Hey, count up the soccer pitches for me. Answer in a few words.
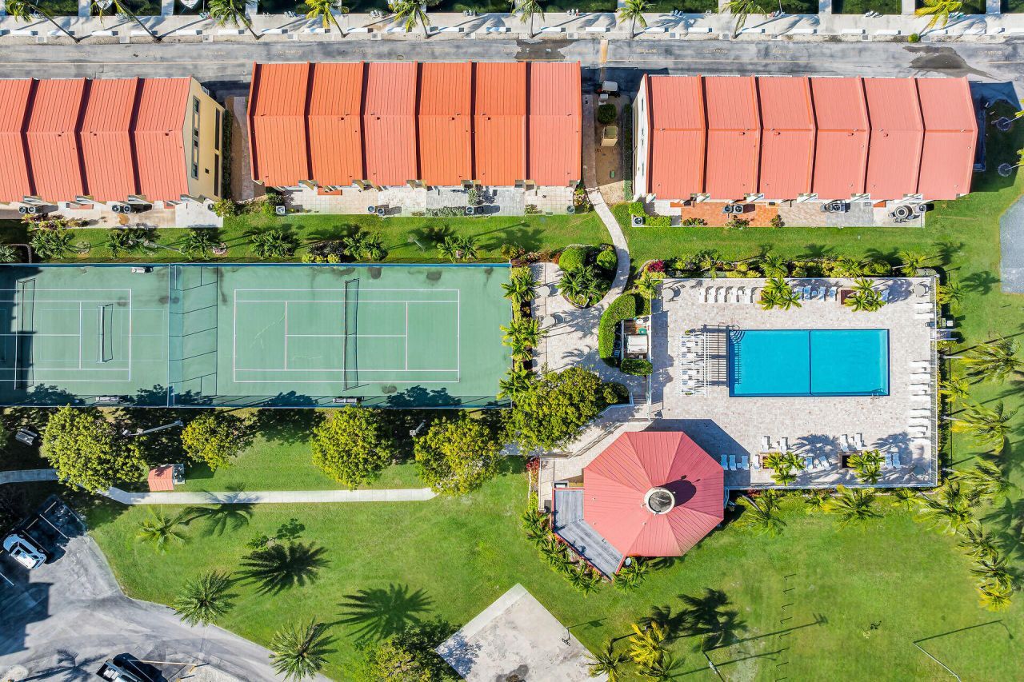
none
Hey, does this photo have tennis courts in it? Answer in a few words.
Yes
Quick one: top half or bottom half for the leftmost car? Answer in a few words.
bottom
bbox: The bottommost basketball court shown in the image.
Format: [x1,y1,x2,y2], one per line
[445,584,614,682]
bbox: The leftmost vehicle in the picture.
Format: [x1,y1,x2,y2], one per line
[0,536,44,573]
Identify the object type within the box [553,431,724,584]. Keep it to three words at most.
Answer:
building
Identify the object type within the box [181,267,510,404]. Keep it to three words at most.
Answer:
tennis court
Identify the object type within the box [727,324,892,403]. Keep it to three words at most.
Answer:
swimming pool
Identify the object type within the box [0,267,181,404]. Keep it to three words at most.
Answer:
tennis court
